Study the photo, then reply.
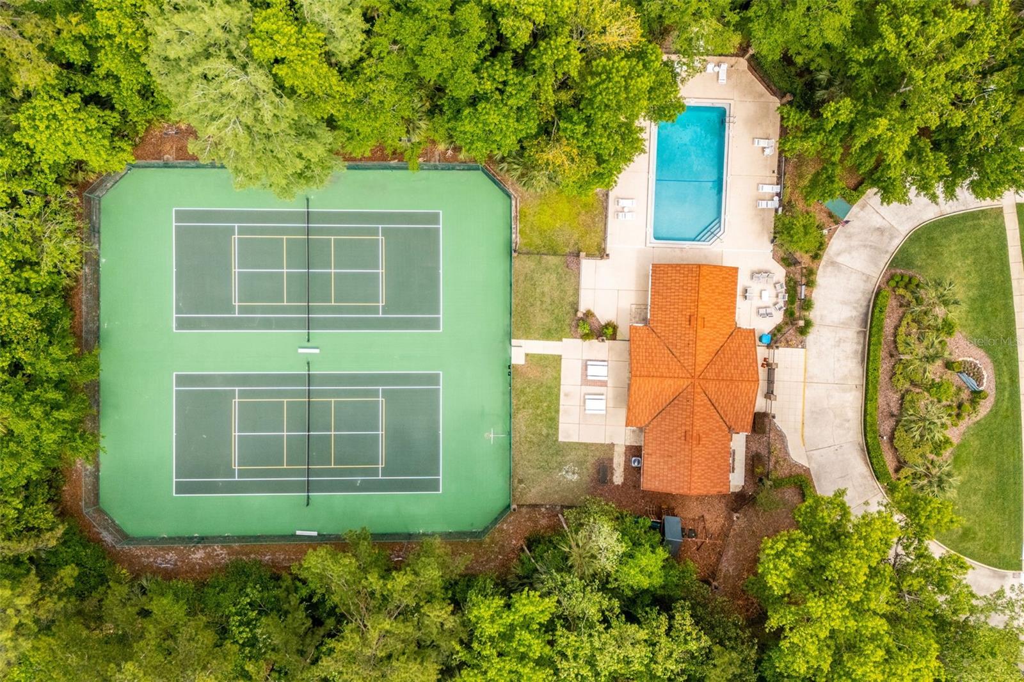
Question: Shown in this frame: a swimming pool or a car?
swimming pool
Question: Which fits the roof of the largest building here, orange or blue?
orange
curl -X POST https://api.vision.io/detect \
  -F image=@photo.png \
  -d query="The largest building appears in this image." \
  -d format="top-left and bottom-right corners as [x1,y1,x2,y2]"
[626,263,760,496]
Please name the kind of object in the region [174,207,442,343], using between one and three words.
tennis court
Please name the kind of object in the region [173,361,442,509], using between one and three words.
tennis court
